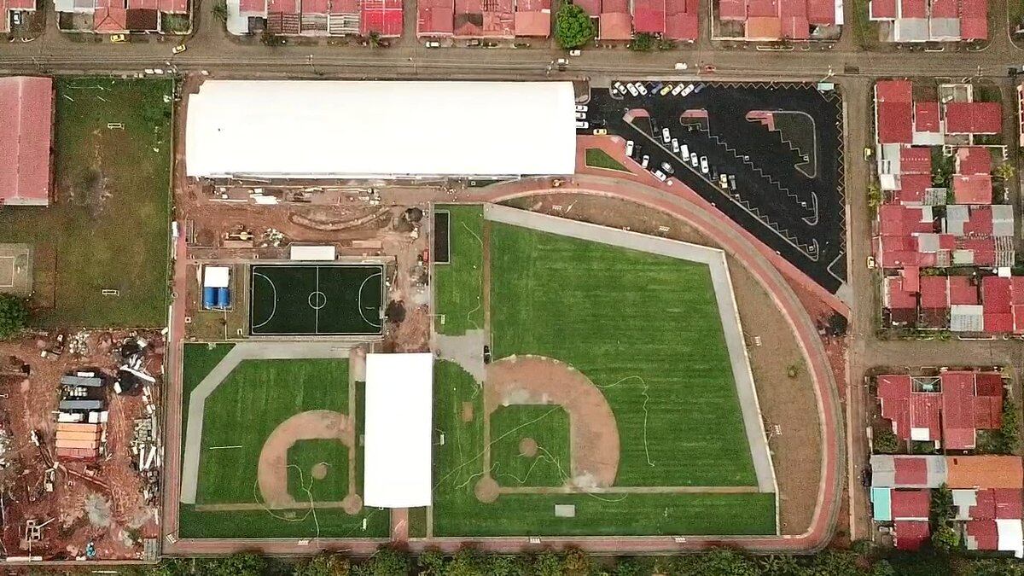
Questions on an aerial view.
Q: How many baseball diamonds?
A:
2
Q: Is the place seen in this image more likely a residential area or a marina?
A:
residential area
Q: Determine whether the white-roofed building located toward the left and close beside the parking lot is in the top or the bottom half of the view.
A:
top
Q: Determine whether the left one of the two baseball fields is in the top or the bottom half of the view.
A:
bottom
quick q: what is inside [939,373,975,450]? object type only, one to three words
house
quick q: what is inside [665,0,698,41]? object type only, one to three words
house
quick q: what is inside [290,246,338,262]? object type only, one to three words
building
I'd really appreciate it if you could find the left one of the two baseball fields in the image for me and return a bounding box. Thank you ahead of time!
[178,341,390,539]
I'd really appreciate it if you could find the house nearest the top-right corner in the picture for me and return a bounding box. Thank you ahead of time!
[958,0,988,41]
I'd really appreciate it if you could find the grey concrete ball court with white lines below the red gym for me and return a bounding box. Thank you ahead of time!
[0,244,32,295]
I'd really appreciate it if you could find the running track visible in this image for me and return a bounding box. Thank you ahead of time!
[162,175,845,555]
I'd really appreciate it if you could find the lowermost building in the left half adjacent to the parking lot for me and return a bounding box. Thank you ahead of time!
[186,81,576,181]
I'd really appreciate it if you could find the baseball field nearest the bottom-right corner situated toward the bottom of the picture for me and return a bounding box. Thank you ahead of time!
[433,202,780,538]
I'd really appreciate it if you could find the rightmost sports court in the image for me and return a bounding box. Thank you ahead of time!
[239,259,389,341]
